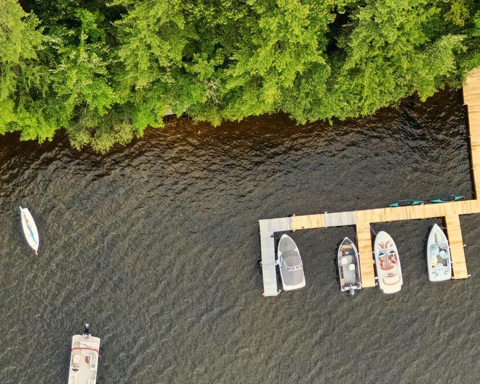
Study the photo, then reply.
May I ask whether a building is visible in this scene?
No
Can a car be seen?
No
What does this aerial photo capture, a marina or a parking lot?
marina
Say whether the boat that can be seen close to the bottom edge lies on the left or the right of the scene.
left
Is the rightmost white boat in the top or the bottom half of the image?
bottom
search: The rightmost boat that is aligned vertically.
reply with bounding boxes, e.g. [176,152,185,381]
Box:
[424,223,452,282]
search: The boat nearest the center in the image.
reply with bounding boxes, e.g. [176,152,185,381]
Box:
[278,234,307,291]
